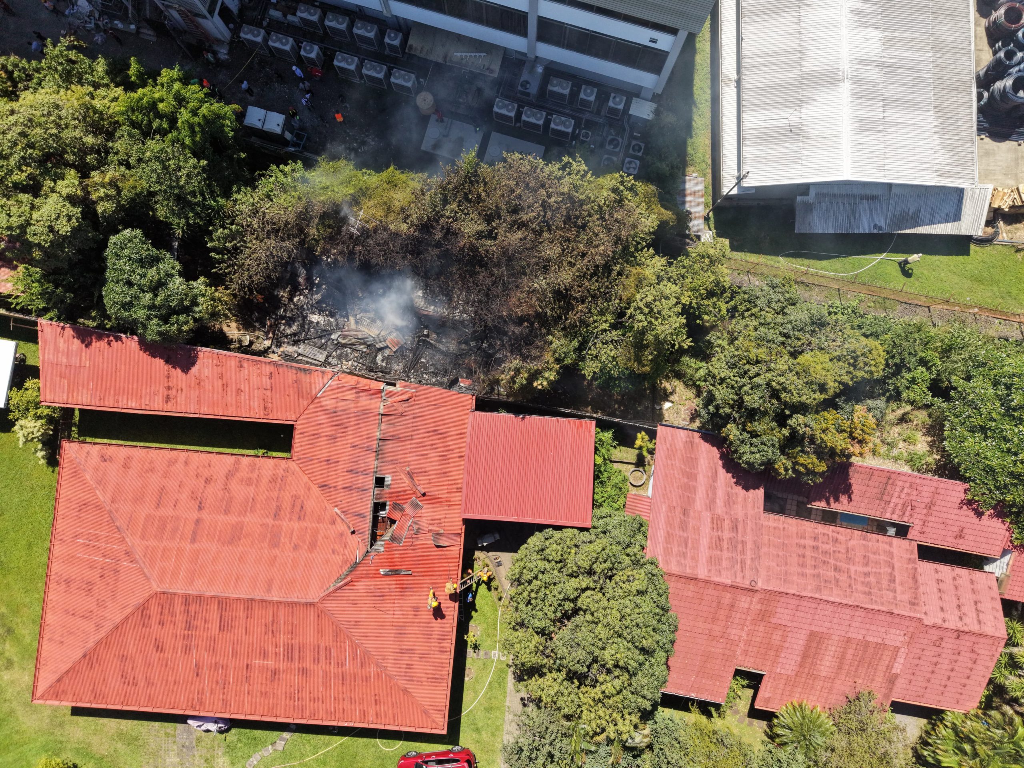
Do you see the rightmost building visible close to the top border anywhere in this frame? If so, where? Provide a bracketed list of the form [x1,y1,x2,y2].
[715,0,979,209]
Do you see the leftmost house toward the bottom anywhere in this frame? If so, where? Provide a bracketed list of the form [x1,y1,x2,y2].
[32,318,476,734]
